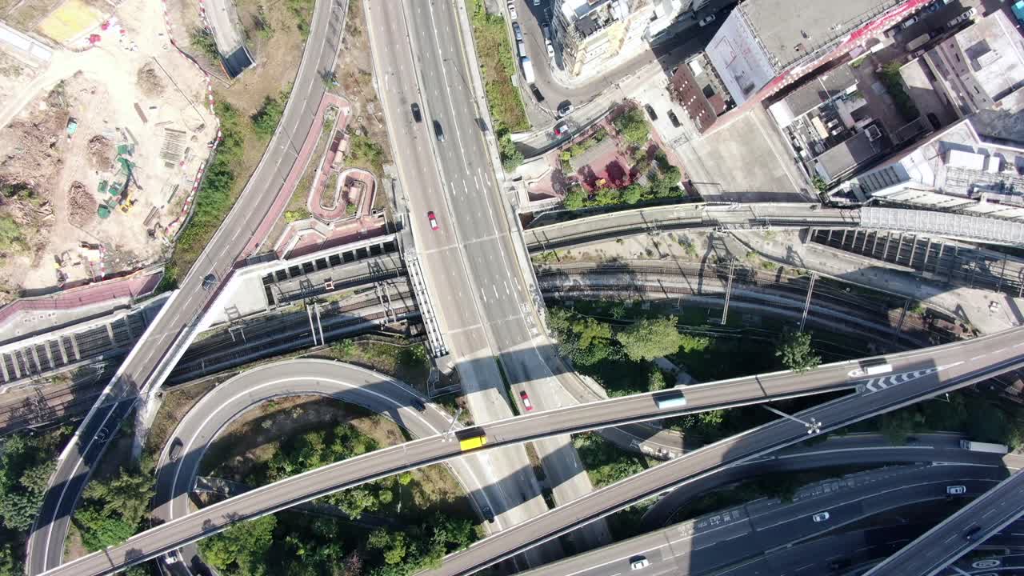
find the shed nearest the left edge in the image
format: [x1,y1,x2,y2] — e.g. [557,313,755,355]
[0,19,58,67]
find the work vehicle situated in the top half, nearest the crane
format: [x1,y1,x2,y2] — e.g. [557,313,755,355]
[113,184,140,214]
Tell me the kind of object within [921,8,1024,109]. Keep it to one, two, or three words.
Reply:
building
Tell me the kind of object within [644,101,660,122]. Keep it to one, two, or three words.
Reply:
car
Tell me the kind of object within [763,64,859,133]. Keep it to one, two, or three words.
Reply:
building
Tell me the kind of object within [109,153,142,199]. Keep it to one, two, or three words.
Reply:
crane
